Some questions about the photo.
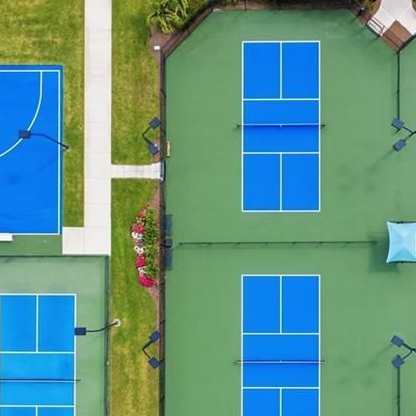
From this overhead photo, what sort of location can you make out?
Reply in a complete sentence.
It's a sports ground.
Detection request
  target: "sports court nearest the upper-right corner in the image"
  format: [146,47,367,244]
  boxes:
[242,41,320,212]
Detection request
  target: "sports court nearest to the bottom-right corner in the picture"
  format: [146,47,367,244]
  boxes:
[242,275,320,416]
